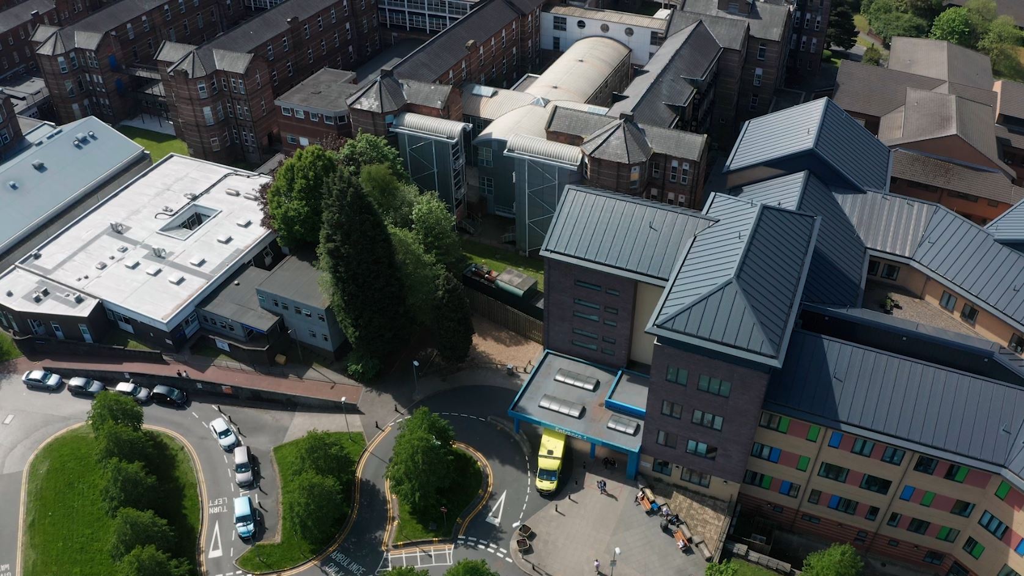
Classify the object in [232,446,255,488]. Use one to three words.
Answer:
car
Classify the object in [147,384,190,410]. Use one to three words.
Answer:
car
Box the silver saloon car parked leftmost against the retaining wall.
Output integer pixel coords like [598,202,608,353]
[17,372,67,393]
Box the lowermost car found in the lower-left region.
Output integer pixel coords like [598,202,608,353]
[232,497,257,542]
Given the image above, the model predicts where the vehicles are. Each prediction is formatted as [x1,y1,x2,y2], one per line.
[17,372,67,393]
[232,446,255,488]
[232,497,257,542]
[535,430,568,492]
[114,379,151,406]
[147,384,190,410]
[63,377,108,399]
[208,416,240,455]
